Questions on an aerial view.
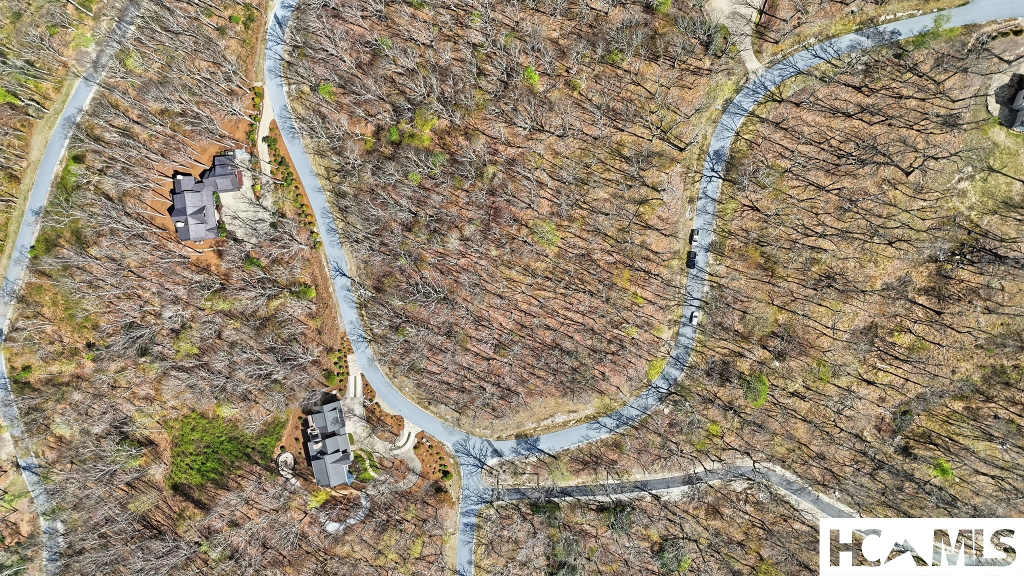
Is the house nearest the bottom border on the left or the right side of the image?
left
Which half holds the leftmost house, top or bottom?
top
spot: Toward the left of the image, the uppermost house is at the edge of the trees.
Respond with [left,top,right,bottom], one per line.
[171,156,245,241]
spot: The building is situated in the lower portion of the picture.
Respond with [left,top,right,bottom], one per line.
[307,399,356,487]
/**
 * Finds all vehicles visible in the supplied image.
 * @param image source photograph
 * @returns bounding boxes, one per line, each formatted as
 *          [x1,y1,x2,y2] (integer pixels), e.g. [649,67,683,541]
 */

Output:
[692,229,700,245]
[693,312,700,325]
[690,252,698,269]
